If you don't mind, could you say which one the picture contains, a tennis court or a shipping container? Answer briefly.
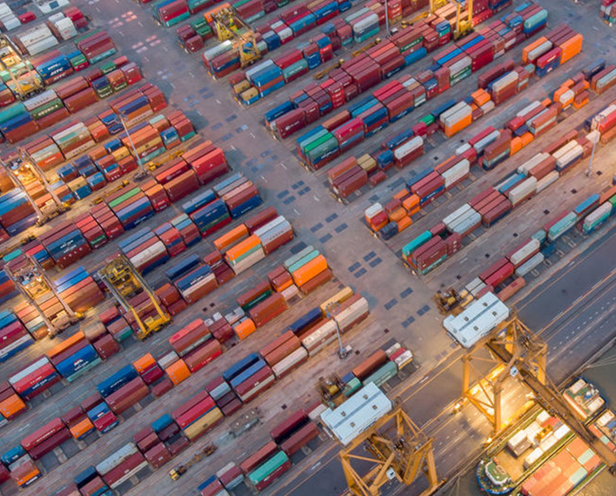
shipping container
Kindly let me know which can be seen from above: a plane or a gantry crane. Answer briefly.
gantry crane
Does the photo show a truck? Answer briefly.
Yes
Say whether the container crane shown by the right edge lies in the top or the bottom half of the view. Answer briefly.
bottom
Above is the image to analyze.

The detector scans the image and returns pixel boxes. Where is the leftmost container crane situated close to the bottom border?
[316,376,444,496]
